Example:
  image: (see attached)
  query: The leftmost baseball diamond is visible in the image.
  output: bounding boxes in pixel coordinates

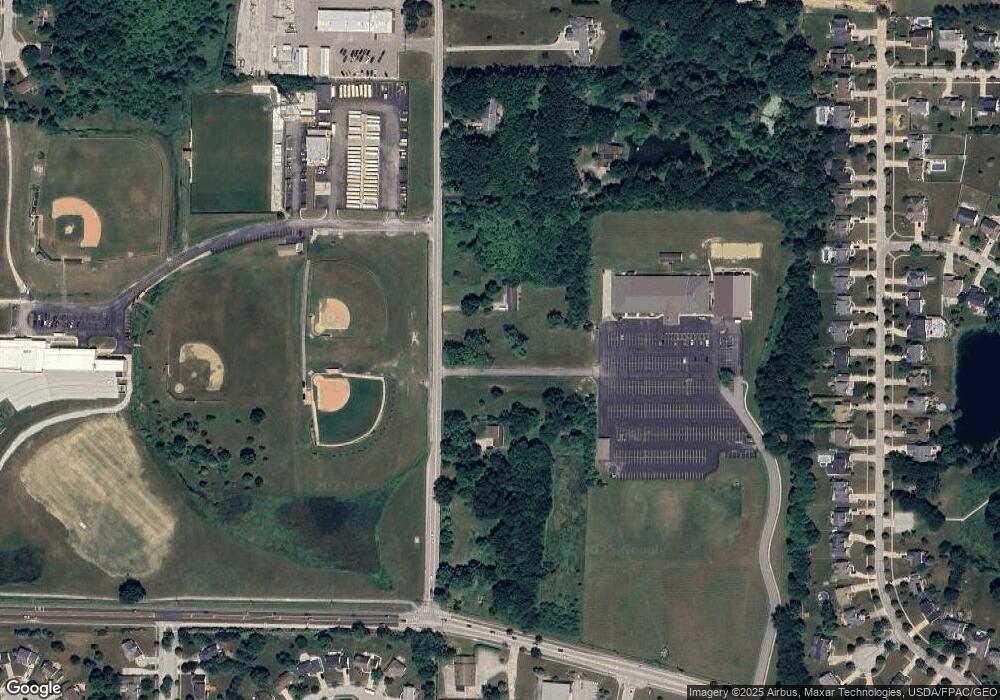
[37,197,161,280]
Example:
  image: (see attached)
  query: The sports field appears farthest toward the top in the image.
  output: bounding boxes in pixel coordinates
[189,94,279,213]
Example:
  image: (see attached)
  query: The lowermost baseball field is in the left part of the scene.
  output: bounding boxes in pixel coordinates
[305,369,386,446]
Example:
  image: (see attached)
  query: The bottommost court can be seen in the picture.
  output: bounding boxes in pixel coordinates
[702,238,762,260]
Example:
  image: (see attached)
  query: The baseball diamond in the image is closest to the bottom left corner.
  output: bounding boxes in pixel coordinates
[165,334,224,401]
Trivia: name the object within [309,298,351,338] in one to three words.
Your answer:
baseball field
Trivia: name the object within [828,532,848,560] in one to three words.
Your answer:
house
